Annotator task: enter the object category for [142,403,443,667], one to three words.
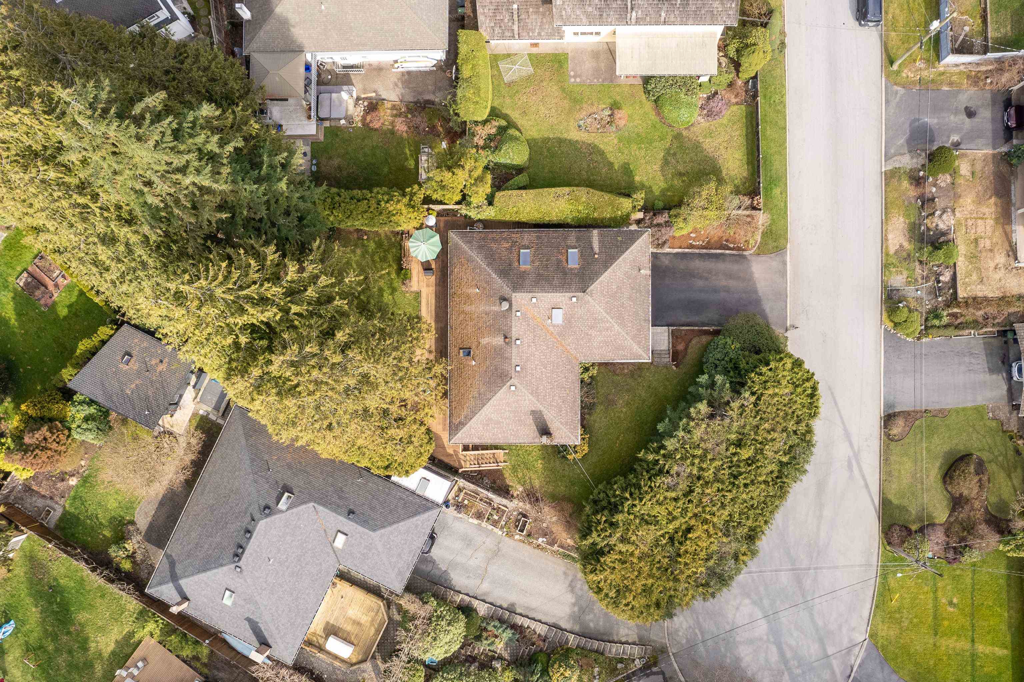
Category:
house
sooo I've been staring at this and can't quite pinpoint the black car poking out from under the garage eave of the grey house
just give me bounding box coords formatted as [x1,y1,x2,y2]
[421,532,443,558]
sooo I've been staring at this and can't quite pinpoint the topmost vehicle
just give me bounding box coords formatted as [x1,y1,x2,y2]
[856,0,890,26]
